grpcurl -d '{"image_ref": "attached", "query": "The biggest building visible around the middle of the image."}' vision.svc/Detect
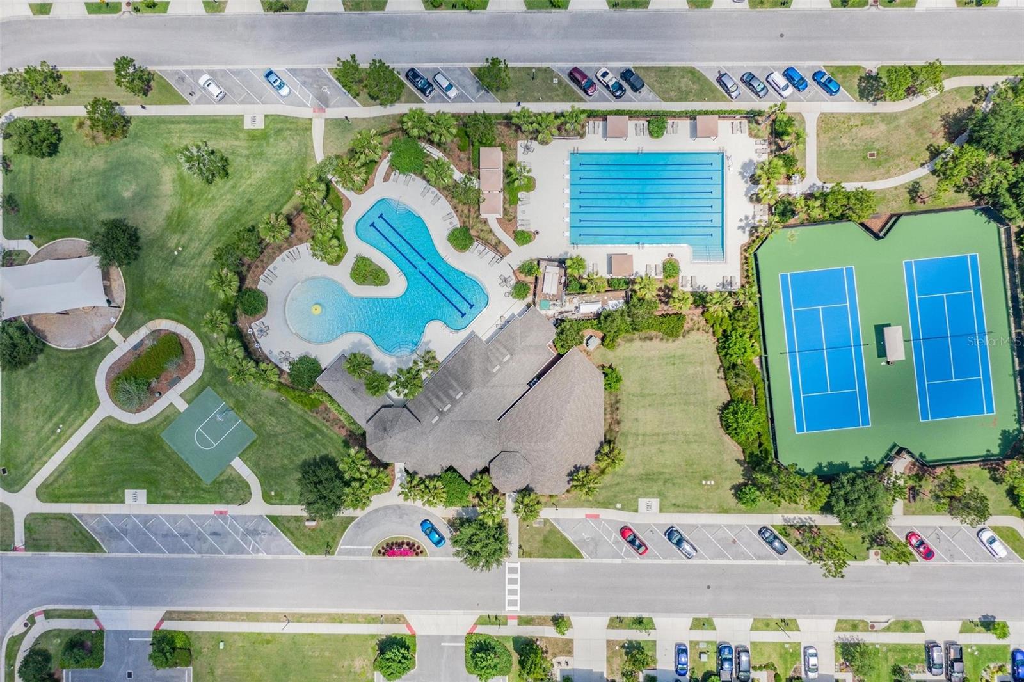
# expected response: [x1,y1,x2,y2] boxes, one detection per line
[316,306,604,495]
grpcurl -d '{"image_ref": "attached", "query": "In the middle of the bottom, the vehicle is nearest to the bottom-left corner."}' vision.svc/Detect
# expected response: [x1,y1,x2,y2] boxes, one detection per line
[420,518,446,549]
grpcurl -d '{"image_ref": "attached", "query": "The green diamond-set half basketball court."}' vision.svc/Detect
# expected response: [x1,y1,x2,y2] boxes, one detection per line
[160,387,256,483]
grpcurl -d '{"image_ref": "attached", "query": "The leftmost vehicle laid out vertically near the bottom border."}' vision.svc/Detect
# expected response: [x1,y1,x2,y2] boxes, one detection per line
[674,643,689,675]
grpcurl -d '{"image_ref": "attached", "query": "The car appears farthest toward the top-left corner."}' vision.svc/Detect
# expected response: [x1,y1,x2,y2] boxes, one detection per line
[197,72,228,103]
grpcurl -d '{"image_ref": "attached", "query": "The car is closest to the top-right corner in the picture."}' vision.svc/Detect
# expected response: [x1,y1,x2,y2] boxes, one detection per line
[811,69,841,97]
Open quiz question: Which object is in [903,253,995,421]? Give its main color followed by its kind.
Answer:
blue tennis court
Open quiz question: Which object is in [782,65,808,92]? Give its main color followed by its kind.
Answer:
blue car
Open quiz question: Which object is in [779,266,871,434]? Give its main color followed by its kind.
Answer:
blue tennis court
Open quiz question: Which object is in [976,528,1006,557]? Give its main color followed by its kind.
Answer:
white car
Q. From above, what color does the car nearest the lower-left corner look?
blue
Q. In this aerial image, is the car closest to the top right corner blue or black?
blue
